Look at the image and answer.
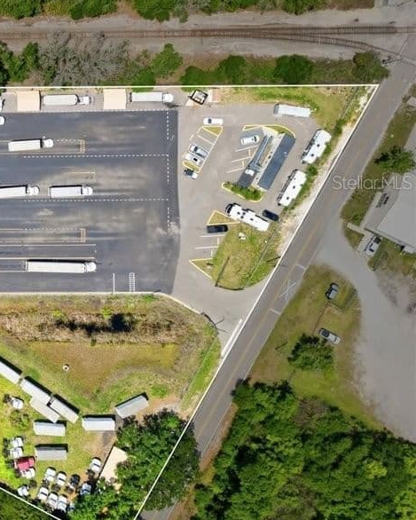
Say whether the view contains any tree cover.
Yes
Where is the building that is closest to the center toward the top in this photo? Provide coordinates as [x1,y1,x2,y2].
[234,129,295,190]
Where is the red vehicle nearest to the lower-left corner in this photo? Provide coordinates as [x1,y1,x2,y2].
[4,454,35,469]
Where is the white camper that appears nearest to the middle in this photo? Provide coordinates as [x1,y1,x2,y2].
[223,203,269,231]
